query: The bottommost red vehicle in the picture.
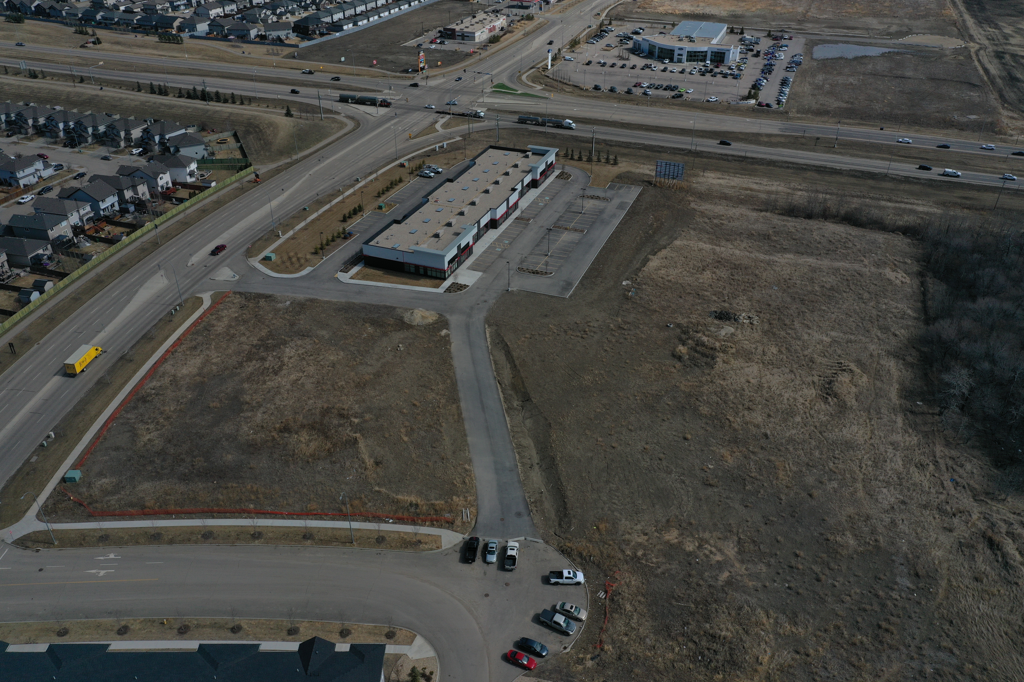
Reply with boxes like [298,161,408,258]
[504,646,538,671]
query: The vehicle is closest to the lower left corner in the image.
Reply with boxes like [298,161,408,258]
[62,344,103,377]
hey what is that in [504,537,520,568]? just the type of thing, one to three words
vehicle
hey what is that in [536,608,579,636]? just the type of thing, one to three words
truck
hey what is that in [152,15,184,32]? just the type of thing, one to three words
house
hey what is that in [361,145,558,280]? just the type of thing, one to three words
building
